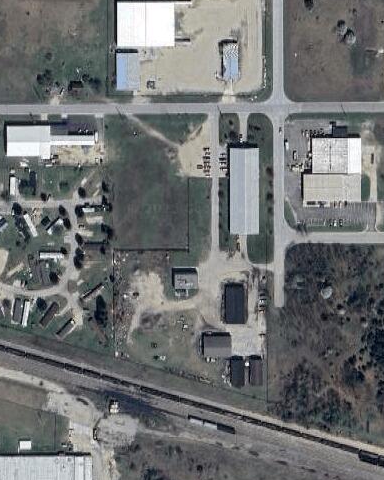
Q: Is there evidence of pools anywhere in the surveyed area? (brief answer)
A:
No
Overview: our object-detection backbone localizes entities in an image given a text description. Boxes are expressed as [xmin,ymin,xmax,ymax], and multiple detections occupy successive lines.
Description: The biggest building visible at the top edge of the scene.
[117,2,175,47]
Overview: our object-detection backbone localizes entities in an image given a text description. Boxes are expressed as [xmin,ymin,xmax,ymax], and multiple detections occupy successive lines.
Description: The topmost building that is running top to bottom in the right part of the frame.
[223,43,238,81]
